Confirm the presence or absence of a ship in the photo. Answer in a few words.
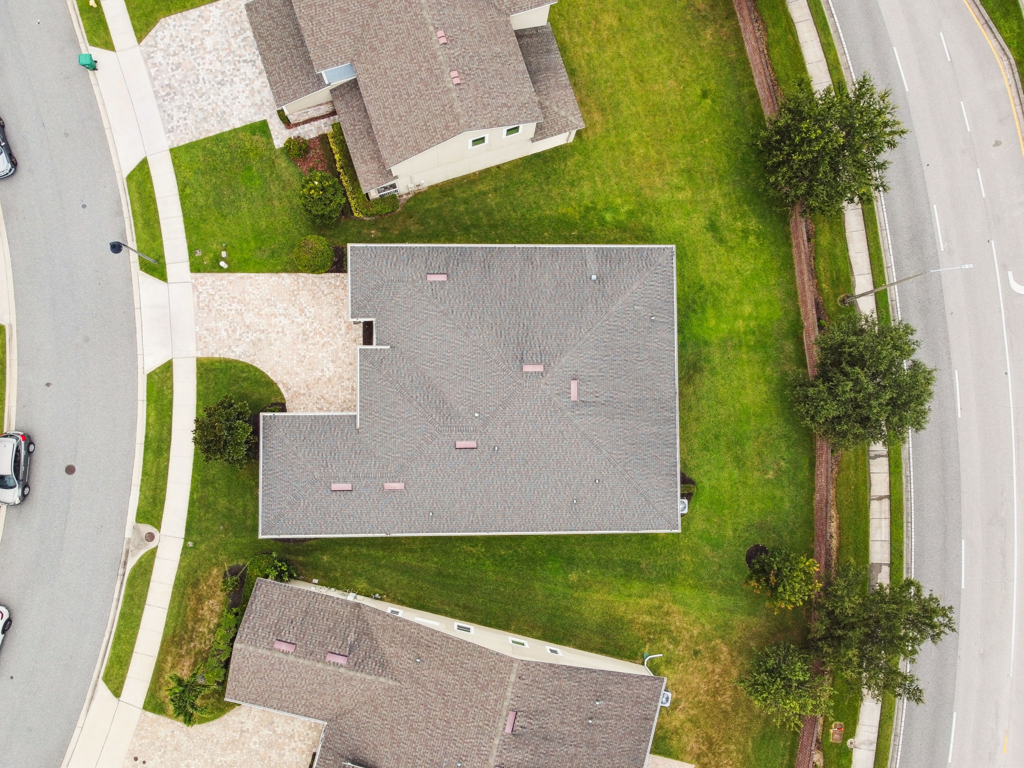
No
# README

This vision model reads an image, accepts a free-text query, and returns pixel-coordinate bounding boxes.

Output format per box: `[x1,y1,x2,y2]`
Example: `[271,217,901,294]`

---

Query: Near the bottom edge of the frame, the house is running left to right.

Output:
[225,578,670,768]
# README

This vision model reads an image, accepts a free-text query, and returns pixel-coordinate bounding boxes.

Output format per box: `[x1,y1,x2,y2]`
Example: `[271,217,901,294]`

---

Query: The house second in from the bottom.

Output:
[256,242,684,540]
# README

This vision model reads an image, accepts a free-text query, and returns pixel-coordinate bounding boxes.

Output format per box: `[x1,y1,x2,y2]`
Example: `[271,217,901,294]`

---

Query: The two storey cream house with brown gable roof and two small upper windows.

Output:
[244,0,585,196]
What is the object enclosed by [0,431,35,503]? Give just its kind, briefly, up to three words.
car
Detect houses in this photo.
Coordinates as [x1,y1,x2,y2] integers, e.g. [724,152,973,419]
[256,242,684,540]
[225,578,670,768]
[244,0,585,196]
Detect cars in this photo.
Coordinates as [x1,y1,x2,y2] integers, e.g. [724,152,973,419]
[0,118,18,177]
[0,431,35,503]
[0,609,12,651]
